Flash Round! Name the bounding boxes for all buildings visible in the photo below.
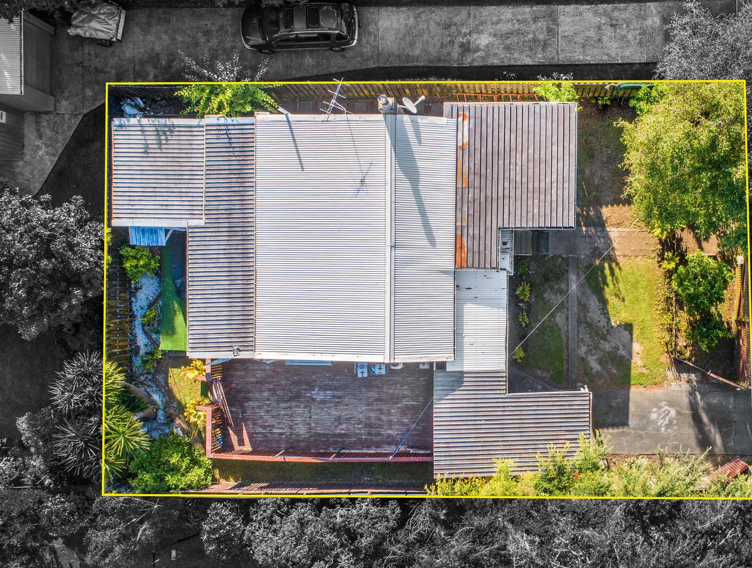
[0,9,56,175]
[111,90,579,370]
